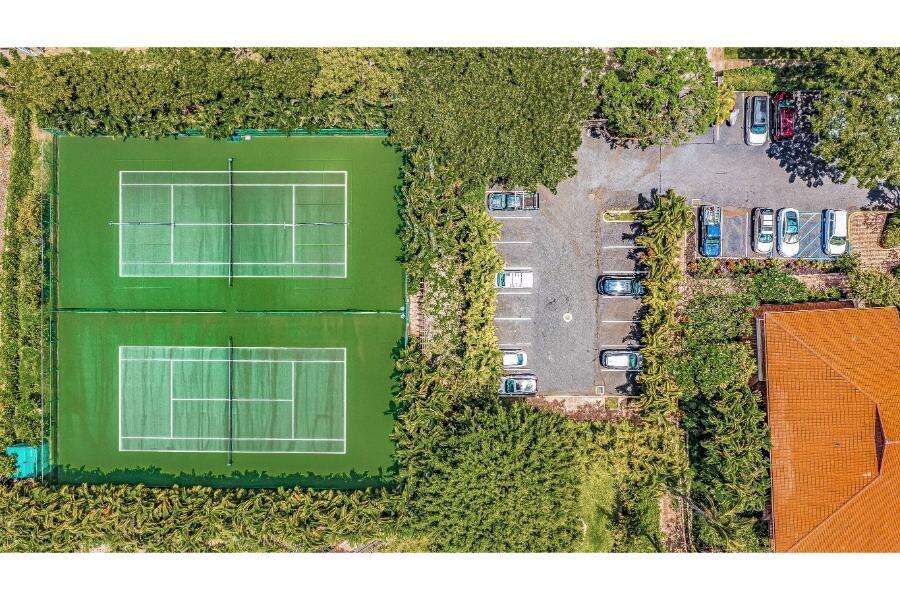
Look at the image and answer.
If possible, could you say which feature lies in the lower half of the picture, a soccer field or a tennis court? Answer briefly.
tennis court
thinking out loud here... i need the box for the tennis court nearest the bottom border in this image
[57,311,405,482]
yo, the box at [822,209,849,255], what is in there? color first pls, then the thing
white vehicle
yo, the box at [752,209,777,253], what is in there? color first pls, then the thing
white car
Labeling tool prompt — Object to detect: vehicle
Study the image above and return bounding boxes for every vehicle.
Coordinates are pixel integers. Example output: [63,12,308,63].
[499,374,540,395]
[730,109,743,126]
[489,350,526,368]
[599,351,644,372]
[744,97,770,146]
[597,275,645,297]
[489,269,534,290]
[822,209,849,255]
[776,210,802,256]
[752,209,777,253]
[487,190,540,211]
[698,206,722,257]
